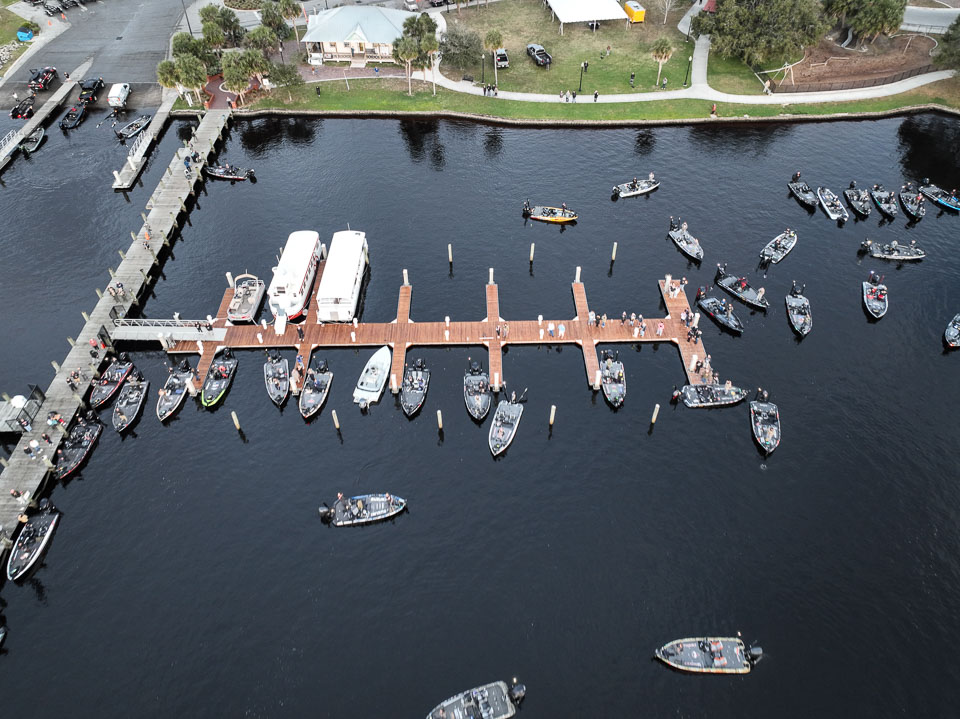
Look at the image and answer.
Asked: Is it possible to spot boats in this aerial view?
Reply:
Yes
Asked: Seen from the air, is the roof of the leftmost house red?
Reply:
No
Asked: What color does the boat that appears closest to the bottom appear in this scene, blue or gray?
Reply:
gray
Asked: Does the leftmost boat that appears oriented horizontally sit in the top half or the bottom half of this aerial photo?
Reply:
top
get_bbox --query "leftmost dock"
[0,82,77,178]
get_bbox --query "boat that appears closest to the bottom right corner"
[655,636,759,672]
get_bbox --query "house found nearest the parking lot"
[302,0,410,67]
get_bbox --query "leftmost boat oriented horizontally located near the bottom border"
[432,682,520,719]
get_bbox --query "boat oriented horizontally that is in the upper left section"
[202,159,252,180]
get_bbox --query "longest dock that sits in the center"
[162,243,715,400]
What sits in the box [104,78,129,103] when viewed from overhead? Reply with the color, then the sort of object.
white vehicle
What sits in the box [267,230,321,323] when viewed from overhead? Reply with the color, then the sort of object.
white boat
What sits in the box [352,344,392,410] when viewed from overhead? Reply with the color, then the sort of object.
white boat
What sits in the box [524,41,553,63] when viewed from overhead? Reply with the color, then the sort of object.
gray truck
